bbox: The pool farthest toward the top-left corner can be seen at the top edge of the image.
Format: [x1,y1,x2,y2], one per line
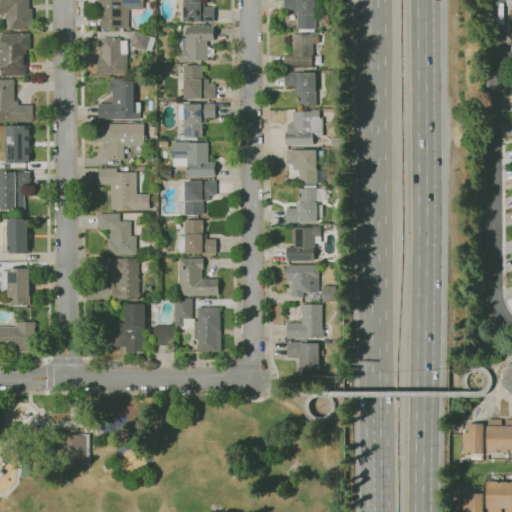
[133,8,153,28]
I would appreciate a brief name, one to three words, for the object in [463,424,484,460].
building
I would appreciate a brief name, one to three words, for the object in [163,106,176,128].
swimming pool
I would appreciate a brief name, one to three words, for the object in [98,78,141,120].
house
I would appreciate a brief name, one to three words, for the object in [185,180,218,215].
house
